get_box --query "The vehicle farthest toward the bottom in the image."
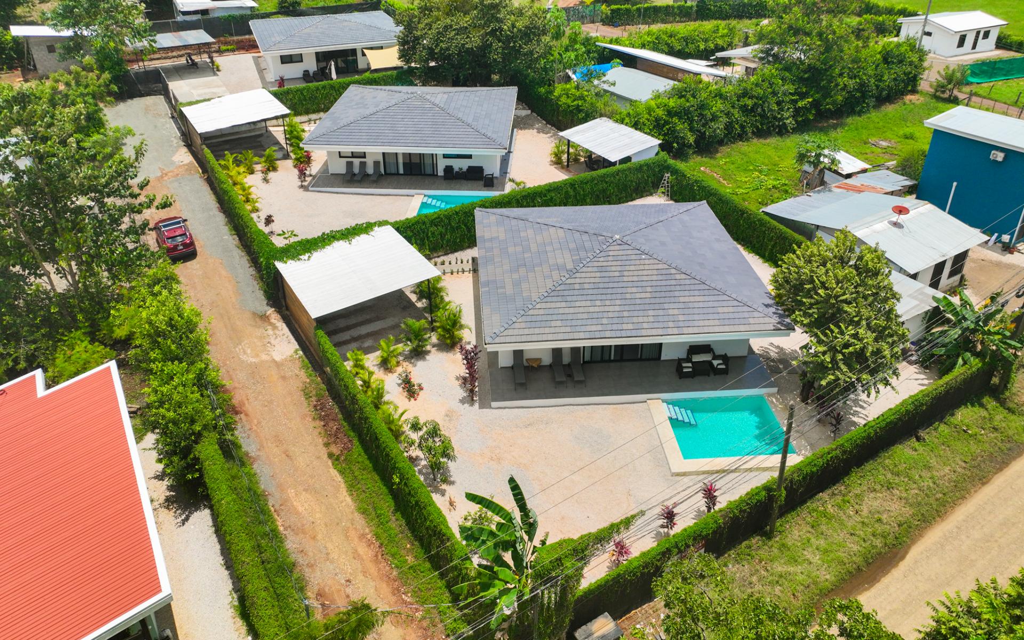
[146,213,193,255]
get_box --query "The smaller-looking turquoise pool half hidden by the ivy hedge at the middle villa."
[404,193,488,227]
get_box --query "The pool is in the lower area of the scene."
[645,391,804,477]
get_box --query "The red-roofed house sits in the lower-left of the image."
[0,361,179,640]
